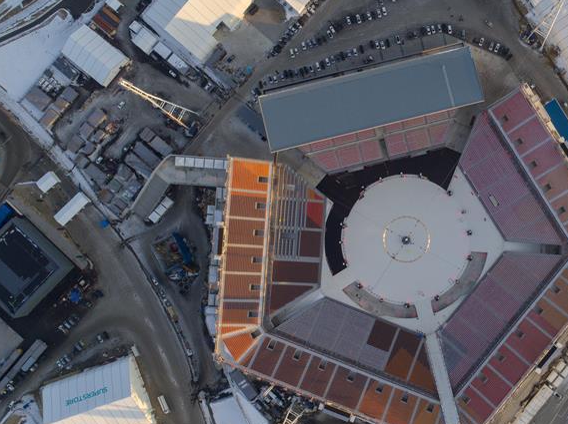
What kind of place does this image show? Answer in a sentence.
It's a sports ground.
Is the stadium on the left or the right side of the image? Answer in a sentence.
The stadium is on the right side of the image.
